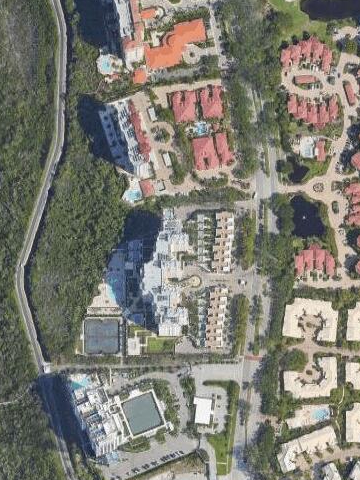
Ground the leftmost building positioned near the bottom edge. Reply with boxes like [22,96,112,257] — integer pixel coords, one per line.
[74,380,133,459]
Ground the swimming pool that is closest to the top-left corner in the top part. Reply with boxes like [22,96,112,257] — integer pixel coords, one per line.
[96,53,119,78]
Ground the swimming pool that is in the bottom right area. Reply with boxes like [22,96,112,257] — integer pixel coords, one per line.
[311,407,331,420]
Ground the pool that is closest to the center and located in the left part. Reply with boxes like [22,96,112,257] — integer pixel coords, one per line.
[122,180,141,203]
